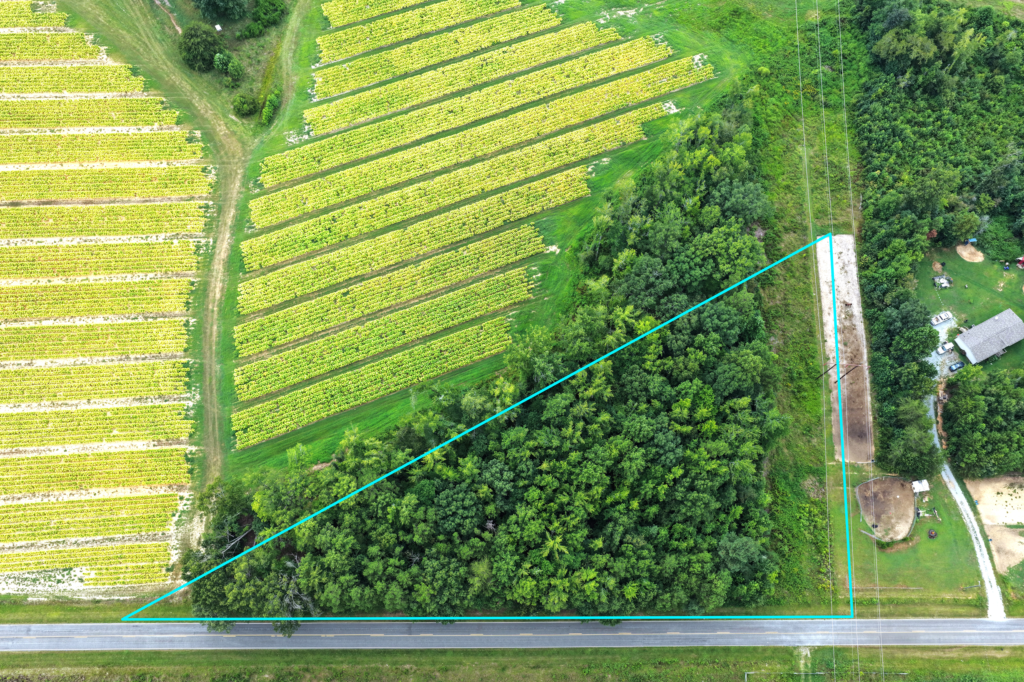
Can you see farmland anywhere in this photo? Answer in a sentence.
Yes, some farmland is visible.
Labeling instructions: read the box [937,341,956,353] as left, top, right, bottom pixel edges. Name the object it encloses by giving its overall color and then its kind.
white vehicle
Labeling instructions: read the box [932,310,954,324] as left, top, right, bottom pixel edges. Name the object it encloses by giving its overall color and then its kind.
white vehicle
